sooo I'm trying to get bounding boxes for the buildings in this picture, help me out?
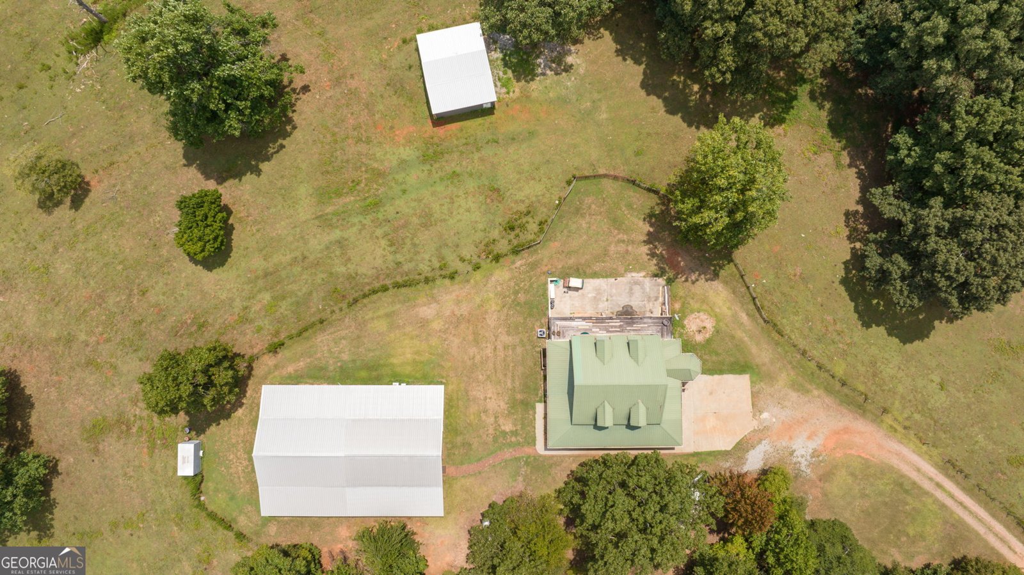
[416,22,496,119]
[178,441,204,476]
[546,334,701,448]
[254,384,446,517]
